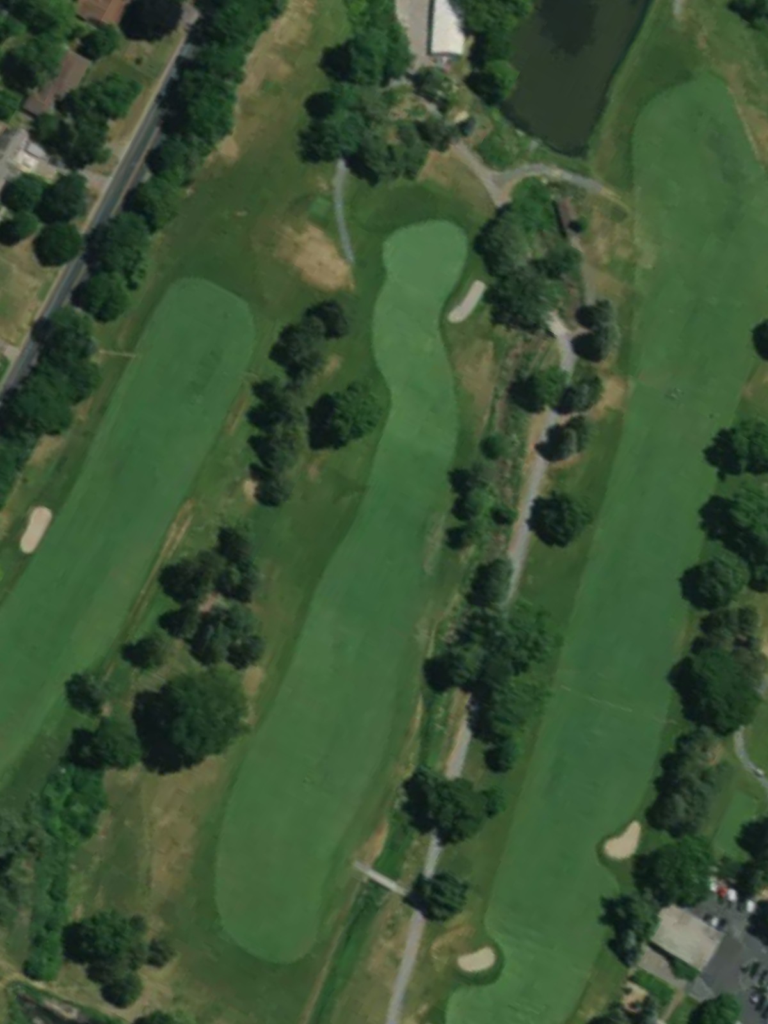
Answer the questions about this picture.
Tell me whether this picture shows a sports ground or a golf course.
golf course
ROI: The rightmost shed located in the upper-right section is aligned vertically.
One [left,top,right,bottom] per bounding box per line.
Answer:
[559,197,580,231]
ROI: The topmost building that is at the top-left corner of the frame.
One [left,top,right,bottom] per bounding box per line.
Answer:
[77,0,129,28]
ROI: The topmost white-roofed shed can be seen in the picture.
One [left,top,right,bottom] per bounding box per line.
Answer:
[431,0,465,56]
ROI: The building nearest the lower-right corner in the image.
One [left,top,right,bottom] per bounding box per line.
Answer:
[652,904,724,971]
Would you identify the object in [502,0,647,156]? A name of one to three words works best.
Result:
pond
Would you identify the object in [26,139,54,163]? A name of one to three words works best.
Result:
house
